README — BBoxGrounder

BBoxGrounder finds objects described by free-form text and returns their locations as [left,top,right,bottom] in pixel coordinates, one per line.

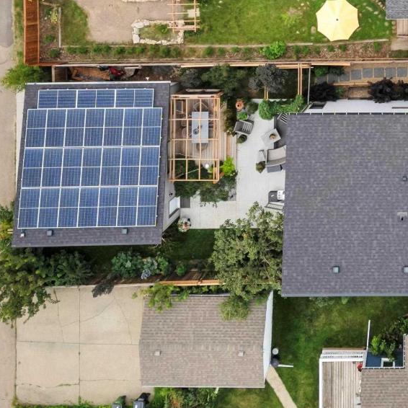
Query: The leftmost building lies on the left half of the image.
[11,81,181,248]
